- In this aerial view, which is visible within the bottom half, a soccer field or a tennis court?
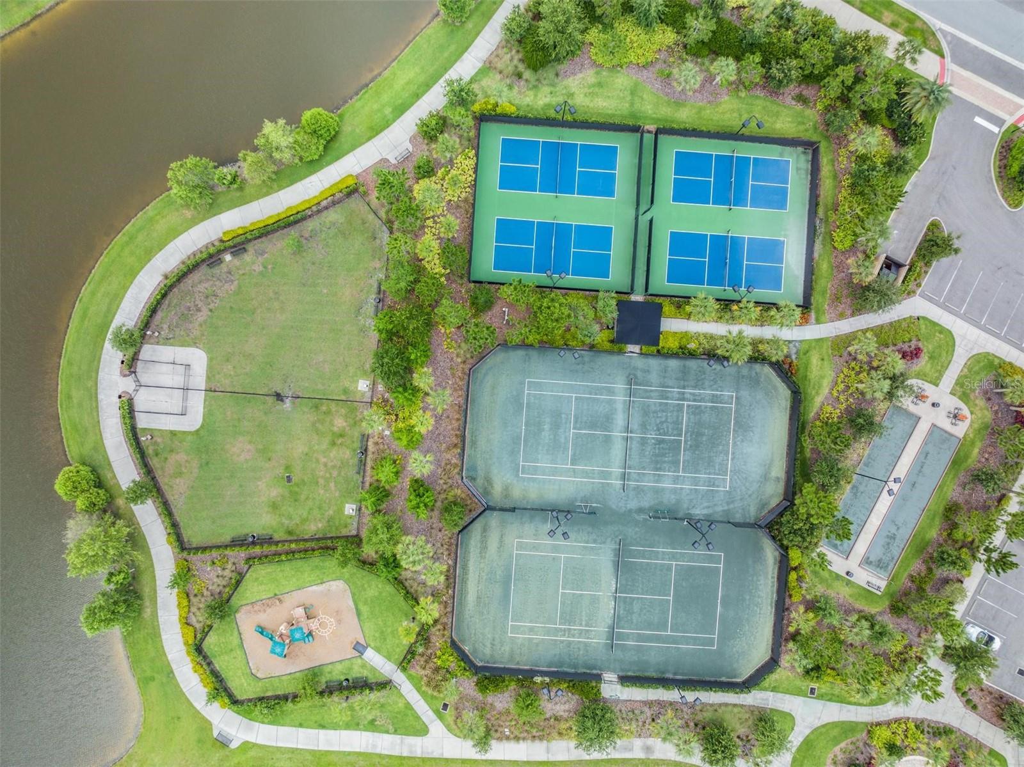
tennis court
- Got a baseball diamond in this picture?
No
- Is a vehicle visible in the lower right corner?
Yes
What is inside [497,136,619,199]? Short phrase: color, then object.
blue sports court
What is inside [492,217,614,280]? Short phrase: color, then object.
blue sports court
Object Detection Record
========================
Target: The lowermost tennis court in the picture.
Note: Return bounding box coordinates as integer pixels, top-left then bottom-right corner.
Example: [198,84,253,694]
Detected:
[453,507,780,682]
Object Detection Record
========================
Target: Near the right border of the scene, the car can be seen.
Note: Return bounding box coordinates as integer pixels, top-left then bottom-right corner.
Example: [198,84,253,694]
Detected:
[962,622,1003,652]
